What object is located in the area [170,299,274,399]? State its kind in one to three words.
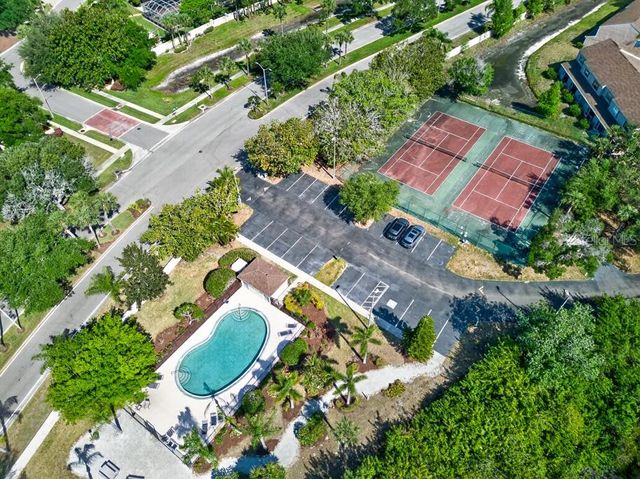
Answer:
swimming pool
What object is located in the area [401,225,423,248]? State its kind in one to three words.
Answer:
car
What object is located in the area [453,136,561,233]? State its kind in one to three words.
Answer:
tennis court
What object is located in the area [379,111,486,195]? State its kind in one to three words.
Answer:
tennis court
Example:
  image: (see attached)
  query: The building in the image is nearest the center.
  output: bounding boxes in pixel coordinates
[235,252,287,298]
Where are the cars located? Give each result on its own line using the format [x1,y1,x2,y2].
[386,218,408,241]
[401,225,423,248]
